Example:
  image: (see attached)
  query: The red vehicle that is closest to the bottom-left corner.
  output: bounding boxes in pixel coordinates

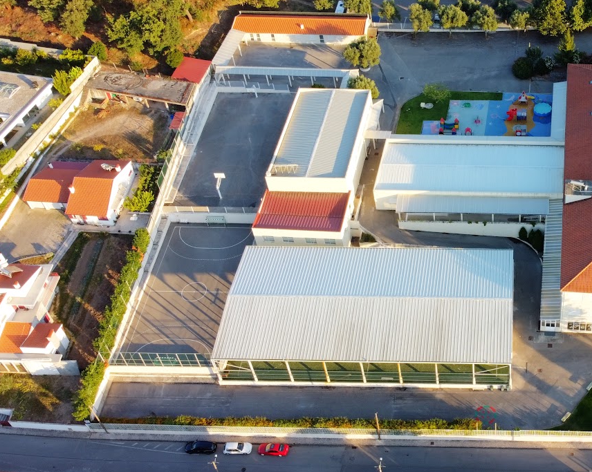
[257,443,291,458]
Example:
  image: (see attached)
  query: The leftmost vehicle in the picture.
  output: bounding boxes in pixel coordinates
[186,441,216,457]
